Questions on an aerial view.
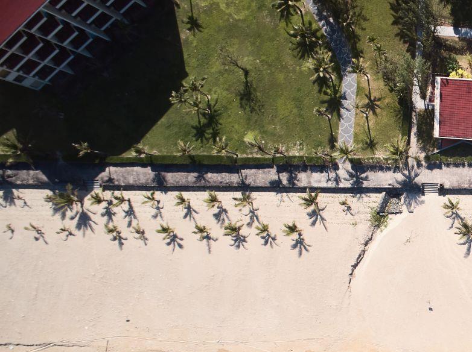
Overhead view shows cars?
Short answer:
No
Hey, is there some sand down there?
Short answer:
Yes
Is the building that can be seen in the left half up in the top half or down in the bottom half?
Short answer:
top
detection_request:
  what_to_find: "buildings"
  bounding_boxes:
[0,0,146,92]
[426,73,472,155]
